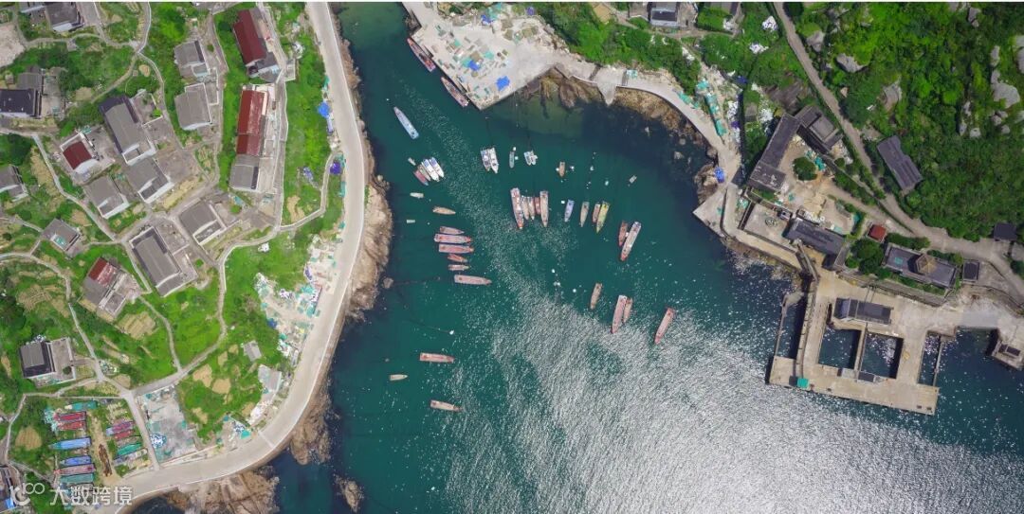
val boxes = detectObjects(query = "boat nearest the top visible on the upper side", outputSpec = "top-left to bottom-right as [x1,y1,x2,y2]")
[407,37,436,73]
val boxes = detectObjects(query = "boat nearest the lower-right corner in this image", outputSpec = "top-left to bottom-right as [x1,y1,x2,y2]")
[656,307,675,344]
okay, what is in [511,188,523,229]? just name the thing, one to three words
boat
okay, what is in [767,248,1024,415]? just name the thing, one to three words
pier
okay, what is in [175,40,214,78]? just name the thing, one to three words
house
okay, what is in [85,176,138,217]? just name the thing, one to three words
house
